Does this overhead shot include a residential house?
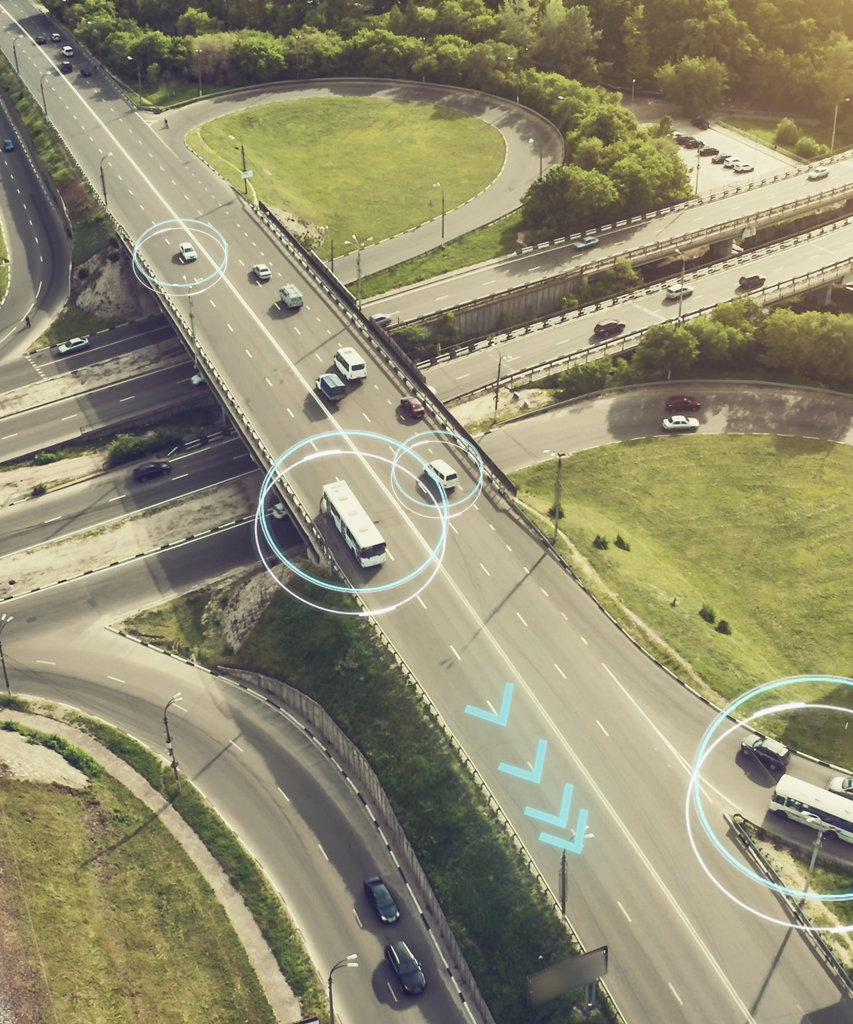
No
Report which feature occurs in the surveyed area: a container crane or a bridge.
bridge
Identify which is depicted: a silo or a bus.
bus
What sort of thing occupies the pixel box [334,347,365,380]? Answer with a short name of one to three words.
vehicle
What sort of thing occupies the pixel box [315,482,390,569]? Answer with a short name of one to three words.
bus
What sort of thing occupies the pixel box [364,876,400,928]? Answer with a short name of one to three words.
car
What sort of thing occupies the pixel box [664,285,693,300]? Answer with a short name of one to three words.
car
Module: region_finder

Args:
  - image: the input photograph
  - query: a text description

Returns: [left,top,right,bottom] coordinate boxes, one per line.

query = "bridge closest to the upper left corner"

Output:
[113,214,515,563]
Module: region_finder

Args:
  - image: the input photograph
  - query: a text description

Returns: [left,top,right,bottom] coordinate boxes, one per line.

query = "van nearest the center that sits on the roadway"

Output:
[425,458,459,493]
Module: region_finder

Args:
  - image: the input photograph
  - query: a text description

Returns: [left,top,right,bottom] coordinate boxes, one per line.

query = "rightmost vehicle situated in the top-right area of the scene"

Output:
[806,167,831,180]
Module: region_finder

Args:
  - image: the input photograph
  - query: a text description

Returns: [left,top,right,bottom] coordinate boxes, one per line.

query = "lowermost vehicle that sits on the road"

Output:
[385,941,427,1002]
